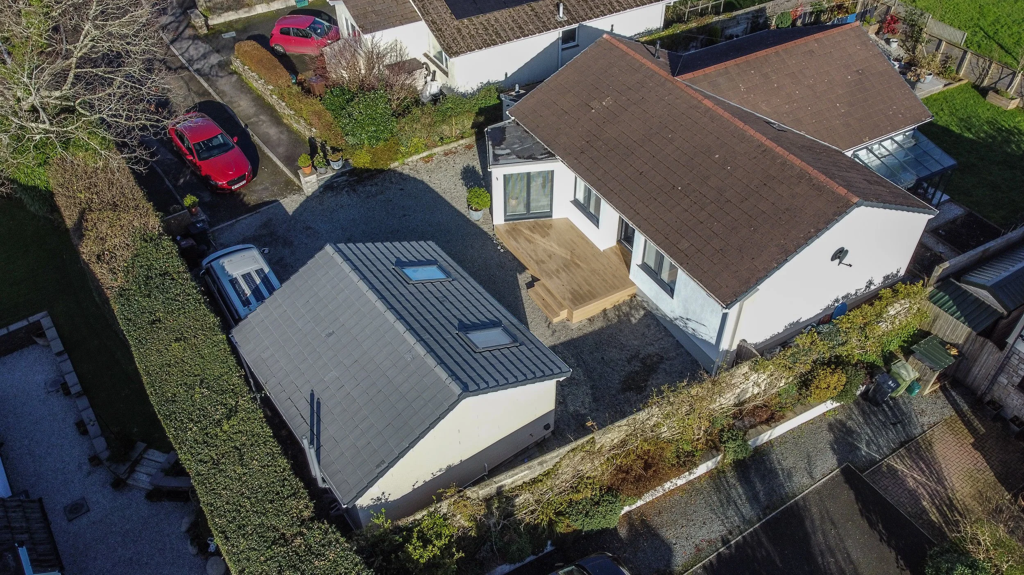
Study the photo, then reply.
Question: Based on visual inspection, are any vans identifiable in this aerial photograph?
Yes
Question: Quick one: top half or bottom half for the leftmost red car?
top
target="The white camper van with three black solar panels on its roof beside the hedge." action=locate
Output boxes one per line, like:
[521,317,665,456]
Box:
[192,252,281,331]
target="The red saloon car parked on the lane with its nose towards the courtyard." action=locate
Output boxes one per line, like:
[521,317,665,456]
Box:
[164,111,259,195]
